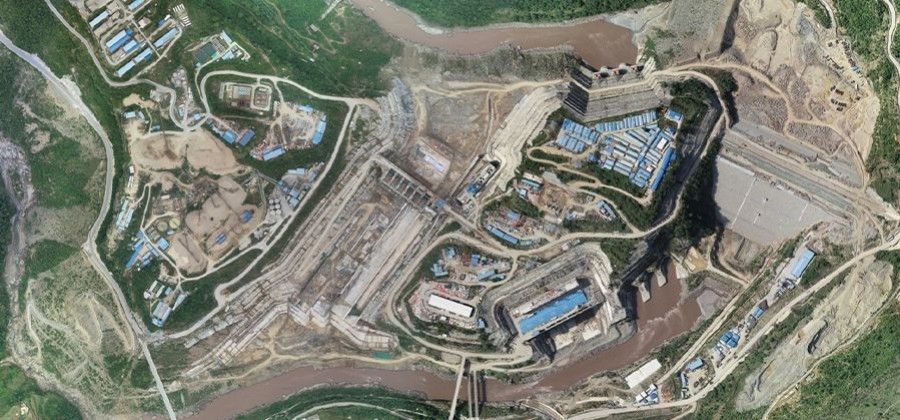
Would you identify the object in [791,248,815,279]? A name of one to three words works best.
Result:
building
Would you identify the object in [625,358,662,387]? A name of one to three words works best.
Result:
building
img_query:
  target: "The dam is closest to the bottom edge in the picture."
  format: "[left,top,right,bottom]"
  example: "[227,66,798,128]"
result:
[715,155,830,245]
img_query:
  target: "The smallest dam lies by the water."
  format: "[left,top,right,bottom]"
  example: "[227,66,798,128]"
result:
[584,62,660,119]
